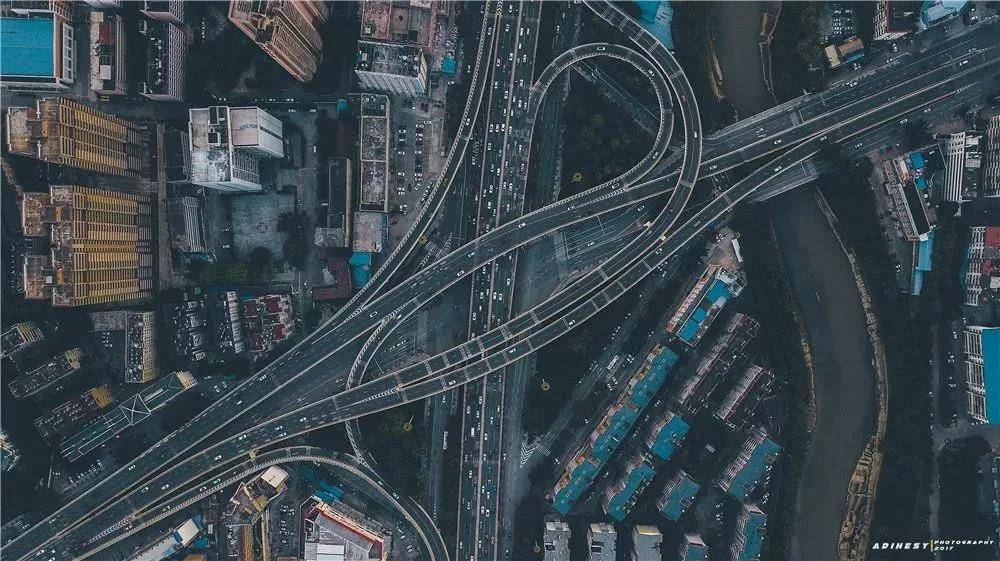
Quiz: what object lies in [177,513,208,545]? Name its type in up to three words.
house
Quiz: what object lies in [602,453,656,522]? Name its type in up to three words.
building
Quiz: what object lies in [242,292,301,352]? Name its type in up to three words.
building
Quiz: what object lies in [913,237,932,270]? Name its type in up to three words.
shed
